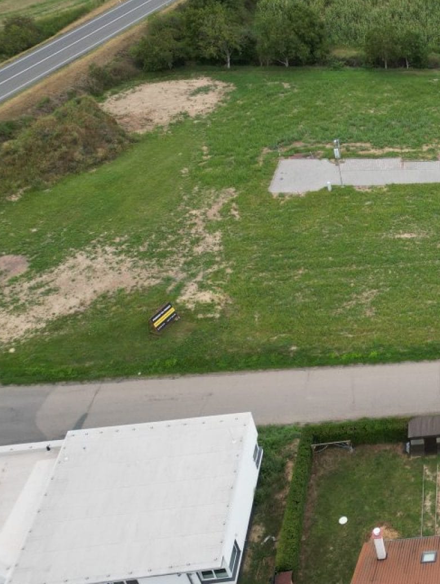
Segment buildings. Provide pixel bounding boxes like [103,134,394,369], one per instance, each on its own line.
[406,408,440,460]
[356,535,440,584]
[3,415,260,584]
